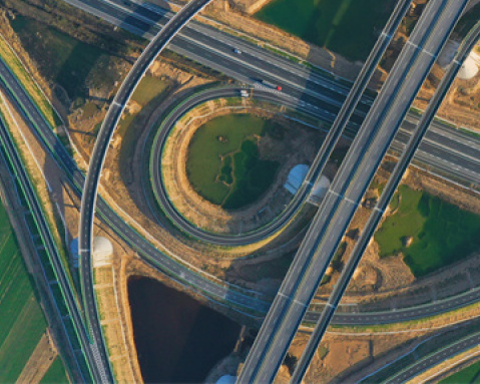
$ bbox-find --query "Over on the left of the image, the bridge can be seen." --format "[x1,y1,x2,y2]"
[78,0,213,249]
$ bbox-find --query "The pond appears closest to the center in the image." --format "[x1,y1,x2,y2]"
[188,115,279,208]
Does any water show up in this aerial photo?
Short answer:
Yes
